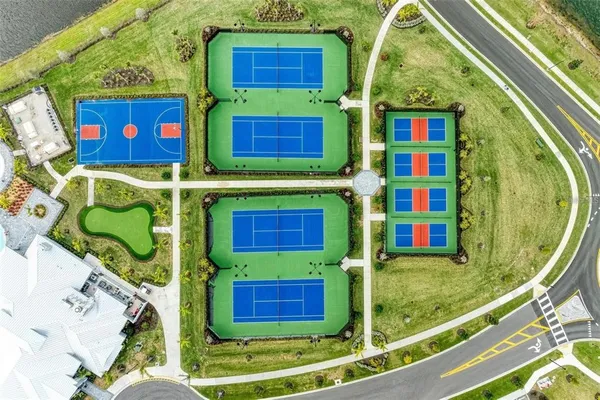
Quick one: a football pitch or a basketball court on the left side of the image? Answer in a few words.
basketball court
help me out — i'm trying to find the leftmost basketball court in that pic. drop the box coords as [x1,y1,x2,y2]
[76,98,185,165]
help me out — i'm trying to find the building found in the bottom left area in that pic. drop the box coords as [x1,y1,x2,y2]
[0,234,129,400]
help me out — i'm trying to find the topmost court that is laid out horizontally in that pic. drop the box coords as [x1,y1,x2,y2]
[209,33,347,102]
